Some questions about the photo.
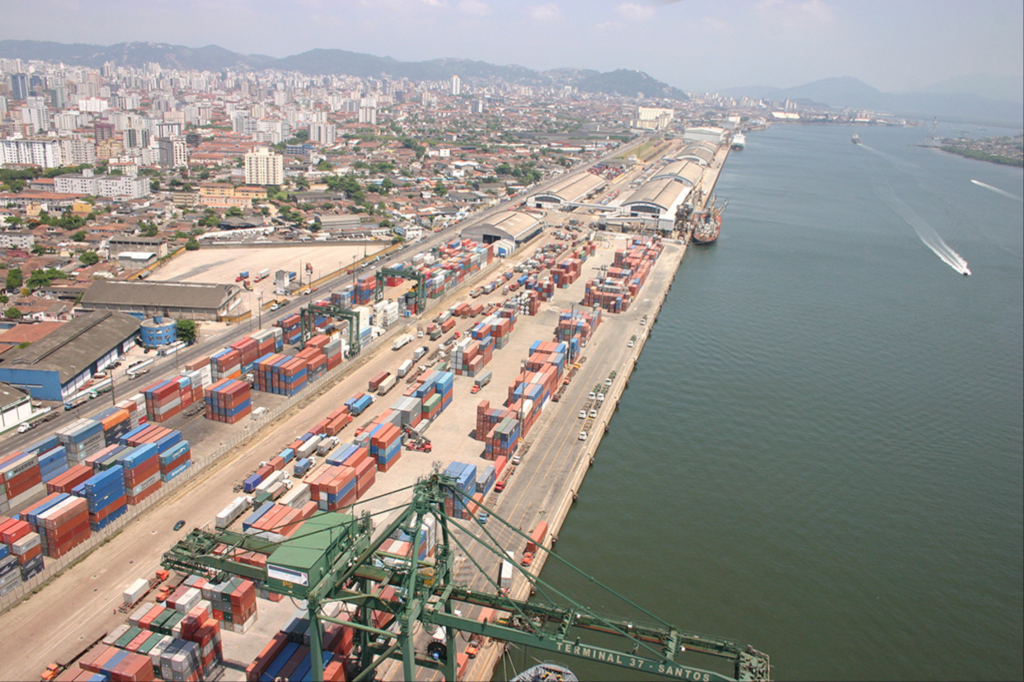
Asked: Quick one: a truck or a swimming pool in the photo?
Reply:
truck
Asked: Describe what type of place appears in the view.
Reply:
port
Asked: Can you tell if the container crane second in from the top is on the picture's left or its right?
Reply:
left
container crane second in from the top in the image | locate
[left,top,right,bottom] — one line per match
[296,301,364,356]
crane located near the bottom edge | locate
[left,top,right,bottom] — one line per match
[147,462,770,682]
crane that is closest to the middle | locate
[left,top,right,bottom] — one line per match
[368,264,430,311]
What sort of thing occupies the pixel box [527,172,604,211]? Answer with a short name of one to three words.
building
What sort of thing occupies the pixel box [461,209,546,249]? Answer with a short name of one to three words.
building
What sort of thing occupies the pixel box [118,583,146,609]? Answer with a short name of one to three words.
shipping container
